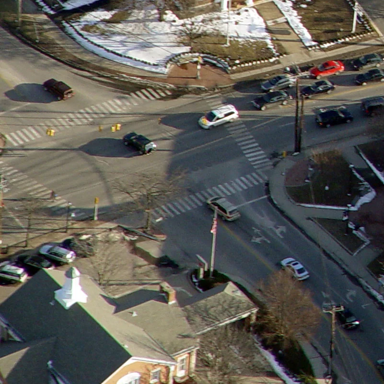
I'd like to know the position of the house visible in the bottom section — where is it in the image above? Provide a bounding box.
[0,261,297,384]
